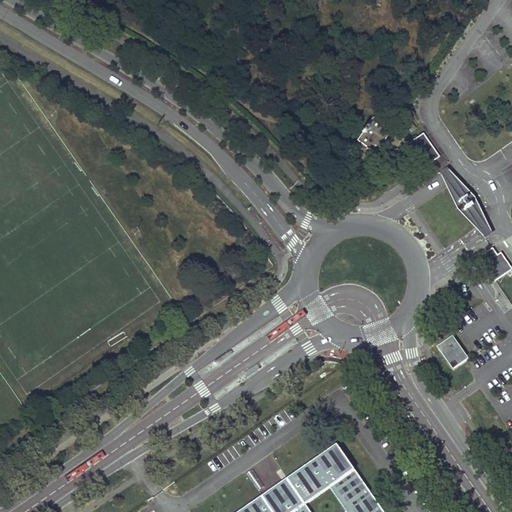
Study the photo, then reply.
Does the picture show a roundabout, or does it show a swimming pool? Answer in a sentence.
The image shows a roundabout.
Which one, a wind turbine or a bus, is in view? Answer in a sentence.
The one in the frame is a bus.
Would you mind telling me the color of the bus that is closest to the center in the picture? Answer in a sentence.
The bus that is closest to the center looks red in the image.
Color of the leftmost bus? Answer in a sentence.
The leftmost bus looks red in the image.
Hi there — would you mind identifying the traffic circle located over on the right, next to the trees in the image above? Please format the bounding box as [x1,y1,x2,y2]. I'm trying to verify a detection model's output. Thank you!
[297,213,430,346]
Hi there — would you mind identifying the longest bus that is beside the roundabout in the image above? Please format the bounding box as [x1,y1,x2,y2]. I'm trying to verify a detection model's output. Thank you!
[267,309,308,340]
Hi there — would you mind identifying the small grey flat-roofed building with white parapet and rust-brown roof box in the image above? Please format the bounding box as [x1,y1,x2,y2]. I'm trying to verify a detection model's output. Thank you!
[437,336,468,370]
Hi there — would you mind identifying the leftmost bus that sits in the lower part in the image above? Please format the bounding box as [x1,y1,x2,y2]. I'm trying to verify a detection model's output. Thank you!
[66,450,108,482]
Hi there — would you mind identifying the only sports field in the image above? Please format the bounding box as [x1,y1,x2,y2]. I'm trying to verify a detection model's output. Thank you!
[0,62,164,399]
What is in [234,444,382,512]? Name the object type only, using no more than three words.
building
